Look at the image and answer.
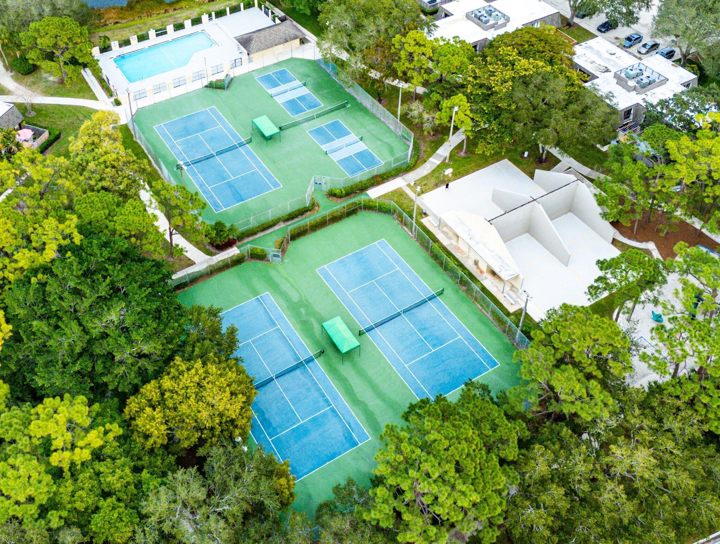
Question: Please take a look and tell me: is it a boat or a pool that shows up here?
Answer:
pool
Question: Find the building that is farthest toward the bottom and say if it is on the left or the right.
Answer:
right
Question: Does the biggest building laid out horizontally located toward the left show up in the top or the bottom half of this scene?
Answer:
top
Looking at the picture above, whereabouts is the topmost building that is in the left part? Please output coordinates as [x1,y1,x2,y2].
[232,20,308,63]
